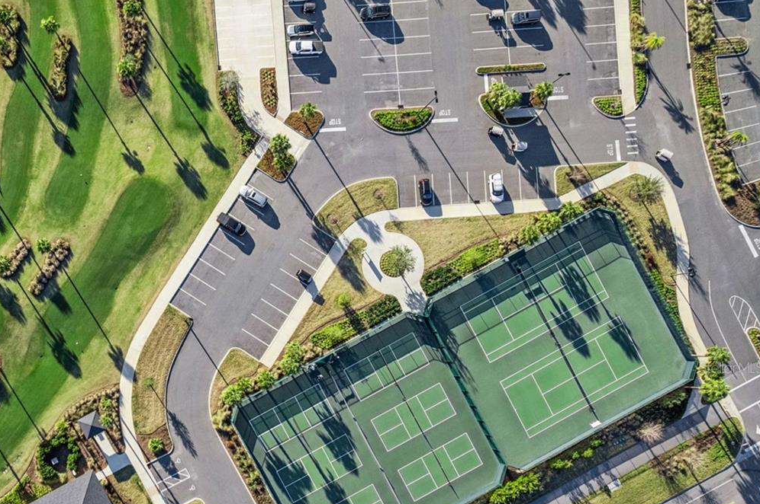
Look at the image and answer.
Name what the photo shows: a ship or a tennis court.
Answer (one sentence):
Visible in the photo is a tennis court.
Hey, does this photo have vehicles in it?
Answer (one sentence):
Yes, a vehicle can be made out from above.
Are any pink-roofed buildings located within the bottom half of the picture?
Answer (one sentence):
No, I can find no pink-roofed building within the bottom half of the picture.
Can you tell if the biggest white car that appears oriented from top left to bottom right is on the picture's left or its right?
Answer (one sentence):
The biggest white car that appears oriented from top left to bottom right sits on the left side.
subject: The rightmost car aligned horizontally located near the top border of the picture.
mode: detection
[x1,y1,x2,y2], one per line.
[509,10,542,25]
